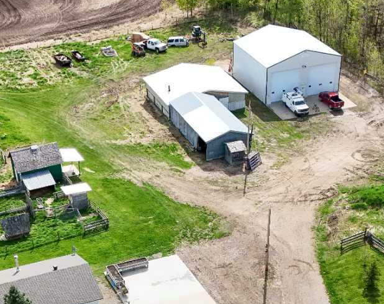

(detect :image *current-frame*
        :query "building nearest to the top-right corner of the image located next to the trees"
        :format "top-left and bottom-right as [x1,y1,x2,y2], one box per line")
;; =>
[233,24,342,104]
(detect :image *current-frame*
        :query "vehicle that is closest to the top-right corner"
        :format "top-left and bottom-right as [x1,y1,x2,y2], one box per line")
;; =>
[314,89,346,109]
